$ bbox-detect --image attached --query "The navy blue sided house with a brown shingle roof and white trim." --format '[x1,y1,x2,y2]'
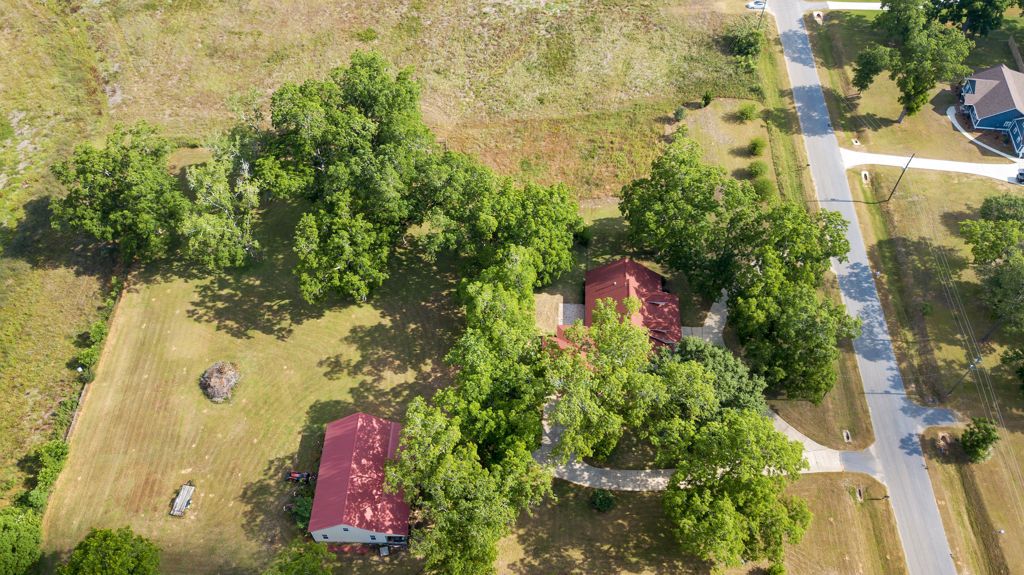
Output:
[954,65,1024,154]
